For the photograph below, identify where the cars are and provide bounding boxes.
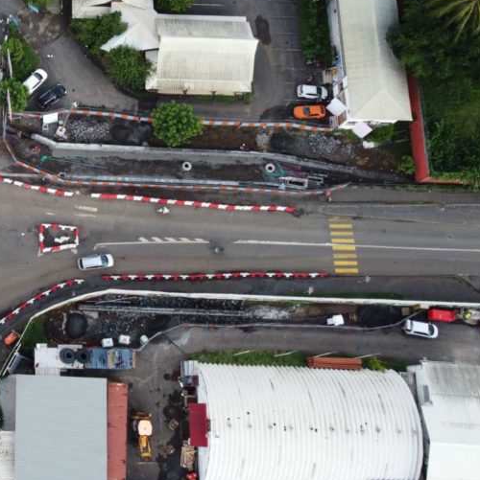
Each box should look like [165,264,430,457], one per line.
[23,69,49,95]
[402,321,438,339]
[38,85,68,109]
[292,105,325,120]
[296,84,328,100]
[78,253,114,271]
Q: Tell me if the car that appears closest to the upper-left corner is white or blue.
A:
white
